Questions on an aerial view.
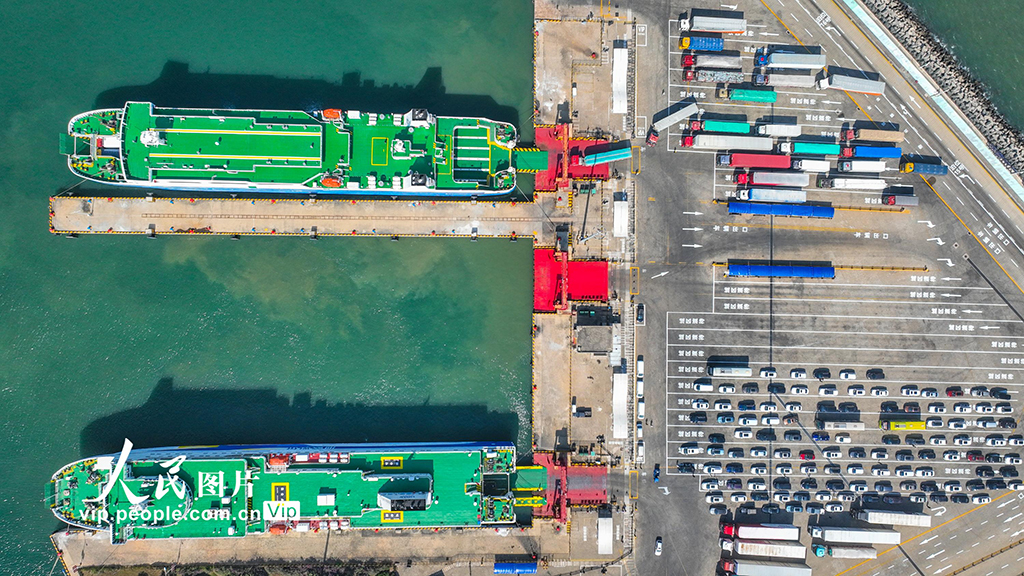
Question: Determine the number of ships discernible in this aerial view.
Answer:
2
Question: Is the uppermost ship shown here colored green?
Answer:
Yes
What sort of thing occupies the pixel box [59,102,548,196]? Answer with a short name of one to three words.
ship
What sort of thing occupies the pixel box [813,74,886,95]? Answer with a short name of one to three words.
truck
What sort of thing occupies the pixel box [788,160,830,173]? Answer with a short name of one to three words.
vehicle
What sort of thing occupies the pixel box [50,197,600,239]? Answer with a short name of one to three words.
pier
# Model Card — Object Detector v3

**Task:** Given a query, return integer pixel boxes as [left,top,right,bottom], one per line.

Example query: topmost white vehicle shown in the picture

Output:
[677,18,746,33]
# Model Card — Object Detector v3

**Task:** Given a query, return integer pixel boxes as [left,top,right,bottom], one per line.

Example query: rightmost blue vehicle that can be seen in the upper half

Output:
[894,160,948,175]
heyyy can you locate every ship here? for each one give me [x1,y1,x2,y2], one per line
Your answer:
[45,442,547,545]
[59,102,548,196]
